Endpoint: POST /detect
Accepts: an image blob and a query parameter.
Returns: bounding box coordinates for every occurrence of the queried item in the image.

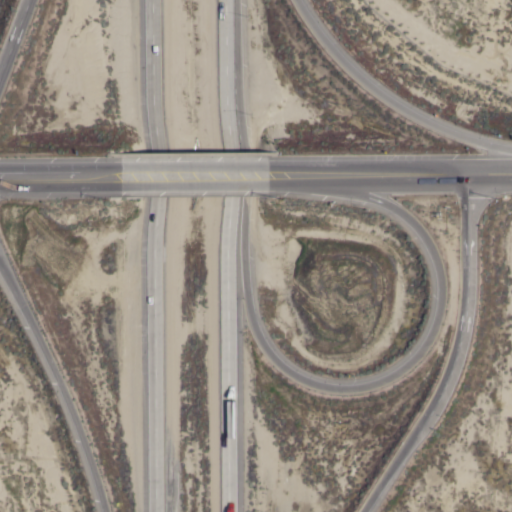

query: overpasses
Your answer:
[110,152,282,198]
